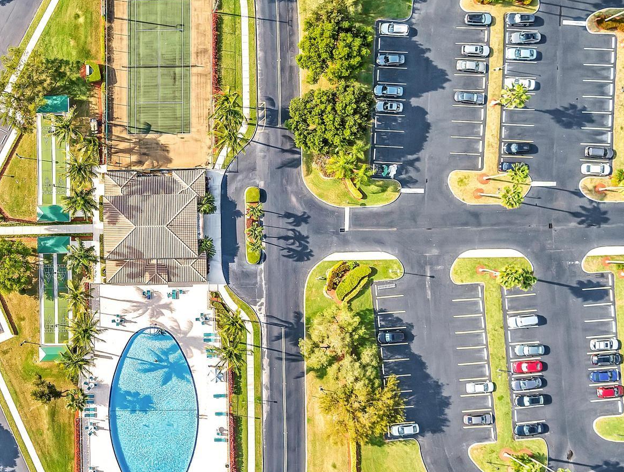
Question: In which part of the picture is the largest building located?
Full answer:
The largest building sits in the left section of the image.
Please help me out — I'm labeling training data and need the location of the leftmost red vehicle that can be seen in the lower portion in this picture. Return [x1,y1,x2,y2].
[512,360,542,374]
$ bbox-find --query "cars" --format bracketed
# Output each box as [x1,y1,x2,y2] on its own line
[595,386,624,398]
[590,369,619,382]
[373,83,403,97]
[498,161,528,173]
[463,13,492,26]
[380,22,407,36]
[464,381,495,394]
[463,412,493,426]
[505,77,534,91]
[514,344,544,357]
[505,12,534,27]
[585,146,613,159]
[502,143,530,155]
[375,52,405,66]
[580,163,610,175]
[514,394,543,407]
[508,315,537,328]
[511,31,540,45]
[590,352,620,365]
[512,360,542,374]
[454,92,483,104]
[507,47,537,61]
[511,377,542,391]
[457,59,485,72]
[589,337,619,350]
[390,422,420,436]
[461,44,489,58]
[513,422,543,437]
